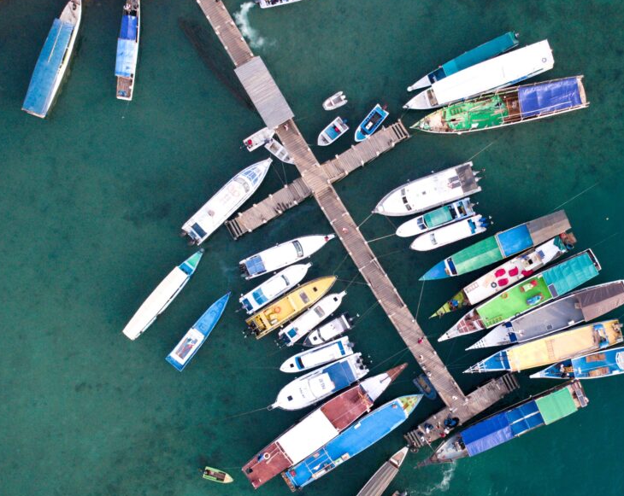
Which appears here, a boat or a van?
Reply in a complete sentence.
Visible in the photo is a boat.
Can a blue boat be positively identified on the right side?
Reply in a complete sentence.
Yes, the scene does show a blue boat on the right side.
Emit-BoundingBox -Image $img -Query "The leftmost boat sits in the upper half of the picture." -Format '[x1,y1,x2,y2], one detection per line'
[22,0,82,121]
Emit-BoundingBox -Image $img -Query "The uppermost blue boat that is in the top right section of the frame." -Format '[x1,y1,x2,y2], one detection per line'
[408,32,517,90]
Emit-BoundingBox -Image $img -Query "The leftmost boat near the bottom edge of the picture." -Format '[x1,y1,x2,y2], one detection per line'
[201,466,233,482]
